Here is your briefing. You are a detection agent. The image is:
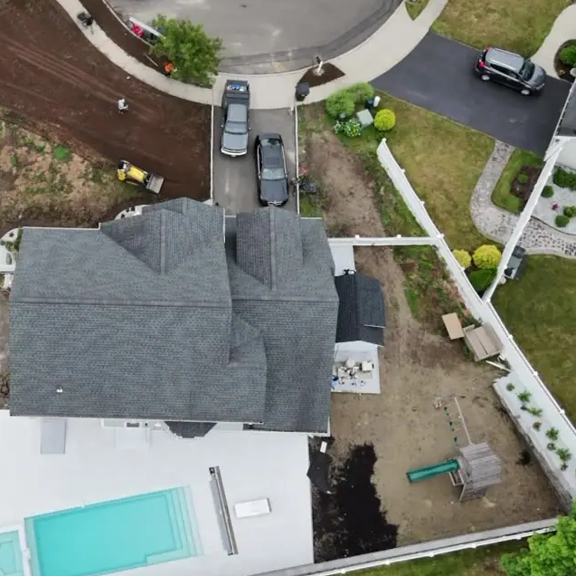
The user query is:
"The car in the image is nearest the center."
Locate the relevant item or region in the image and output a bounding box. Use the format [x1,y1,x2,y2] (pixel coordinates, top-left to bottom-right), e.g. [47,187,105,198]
[253,139,289,205]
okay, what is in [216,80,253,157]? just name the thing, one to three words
truck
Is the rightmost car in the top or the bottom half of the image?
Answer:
top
